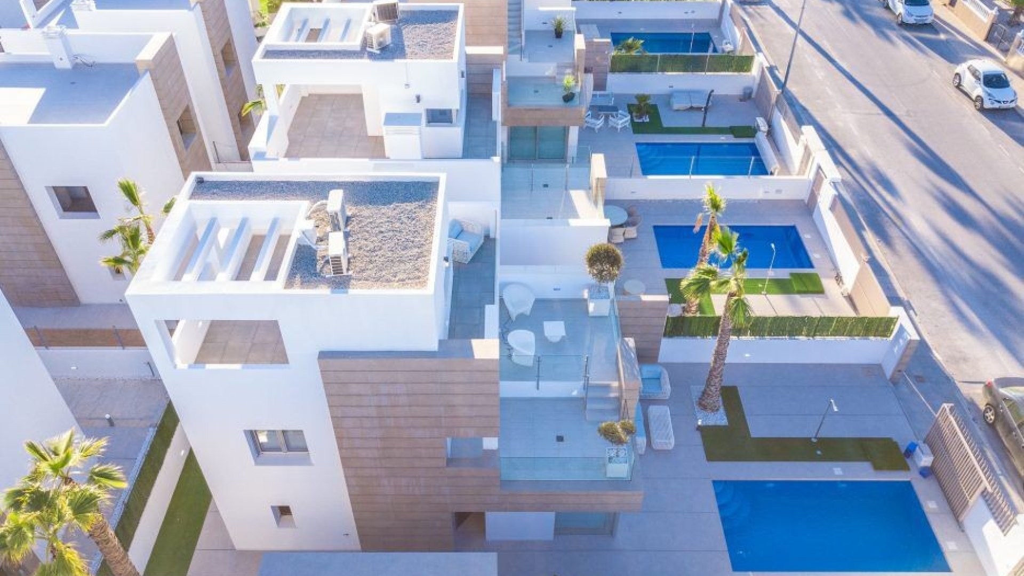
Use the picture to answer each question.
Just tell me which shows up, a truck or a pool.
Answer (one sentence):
It is a pool that can be seen here.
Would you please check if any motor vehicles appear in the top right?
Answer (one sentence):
Yes, the scene does show a motor vehicle in the top right.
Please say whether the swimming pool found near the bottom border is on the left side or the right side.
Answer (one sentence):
The swimming pool found near the bottom border appears in the right half of the scene.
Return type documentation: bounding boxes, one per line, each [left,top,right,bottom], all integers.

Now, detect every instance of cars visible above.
[984,379,1024,469]
[951,55,1019,104]
[882,0,937,21]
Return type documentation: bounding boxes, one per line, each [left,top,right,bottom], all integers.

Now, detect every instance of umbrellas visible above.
[698,84,718,128]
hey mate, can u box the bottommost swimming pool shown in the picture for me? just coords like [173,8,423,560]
[708,476,957,576]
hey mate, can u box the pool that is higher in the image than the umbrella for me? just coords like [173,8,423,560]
[608,31,722,54]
